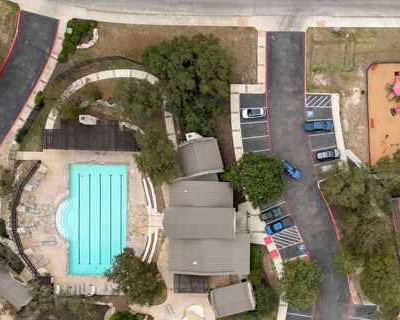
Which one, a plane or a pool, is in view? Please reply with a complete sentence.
Looking from above, you can make out a pool.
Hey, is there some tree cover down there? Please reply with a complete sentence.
Yes, there is tree cover in the image.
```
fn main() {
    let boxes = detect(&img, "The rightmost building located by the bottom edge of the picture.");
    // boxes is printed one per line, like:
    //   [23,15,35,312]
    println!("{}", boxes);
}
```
[211,281,253,318]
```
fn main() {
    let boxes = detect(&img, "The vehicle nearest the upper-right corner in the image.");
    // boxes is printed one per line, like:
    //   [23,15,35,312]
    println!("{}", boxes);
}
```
[304,120,333,132]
